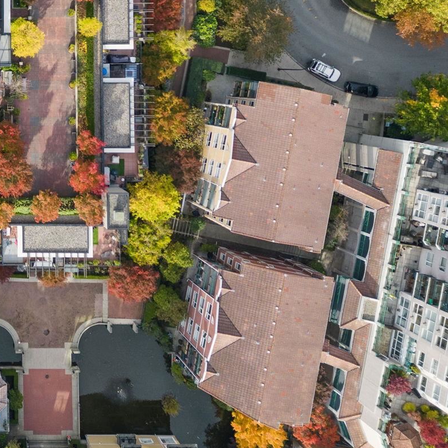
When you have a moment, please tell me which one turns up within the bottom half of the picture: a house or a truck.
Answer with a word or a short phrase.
house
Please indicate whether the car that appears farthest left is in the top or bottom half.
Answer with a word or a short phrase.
top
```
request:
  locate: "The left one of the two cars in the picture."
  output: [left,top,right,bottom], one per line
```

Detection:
[308,59,342,82]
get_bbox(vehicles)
[308,59,342,82]
[345,82,379,98]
